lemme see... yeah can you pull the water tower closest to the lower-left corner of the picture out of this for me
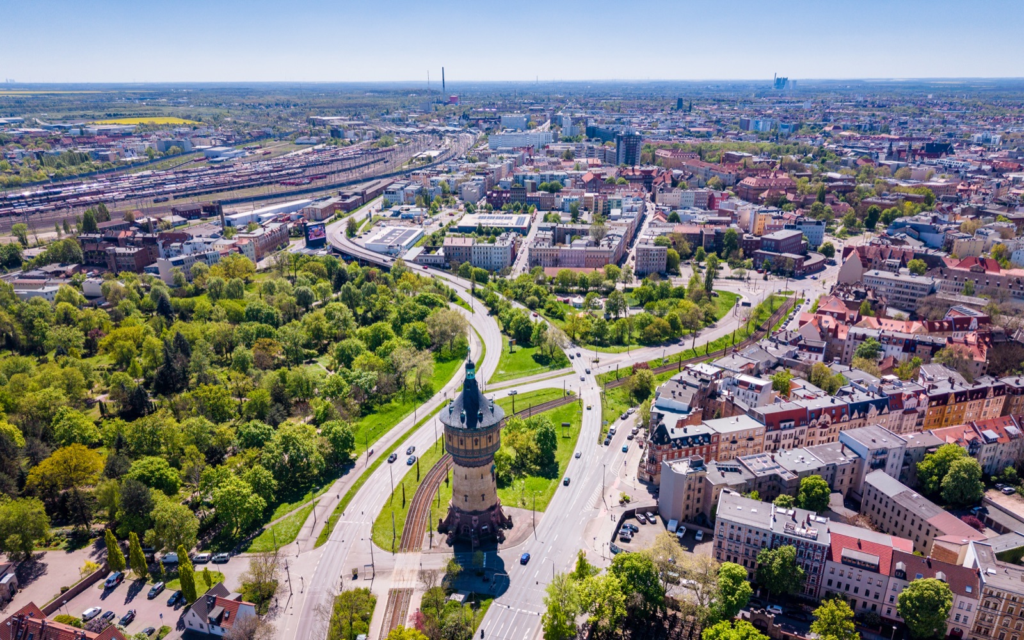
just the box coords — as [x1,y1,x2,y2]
[435,342,513,553]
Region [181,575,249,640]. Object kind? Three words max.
house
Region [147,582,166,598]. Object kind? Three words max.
car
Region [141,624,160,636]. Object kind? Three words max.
vehicle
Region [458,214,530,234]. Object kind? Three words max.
building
